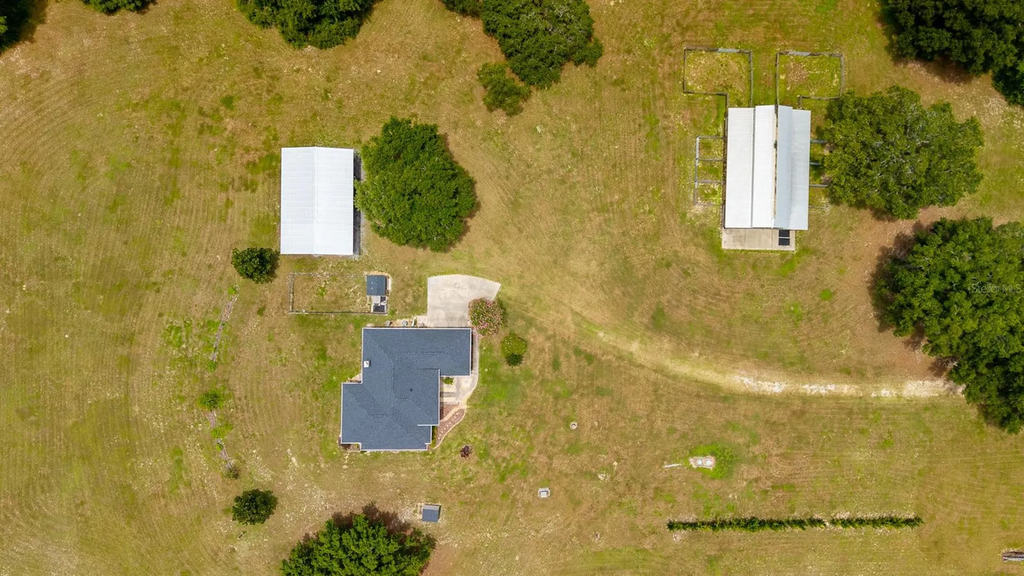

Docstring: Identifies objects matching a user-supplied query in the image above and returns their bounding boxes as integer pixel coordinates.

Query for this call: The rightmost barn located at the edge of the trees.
[721,103,811,231]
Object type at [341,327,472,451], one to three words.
house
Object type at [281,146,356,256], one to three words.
shed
